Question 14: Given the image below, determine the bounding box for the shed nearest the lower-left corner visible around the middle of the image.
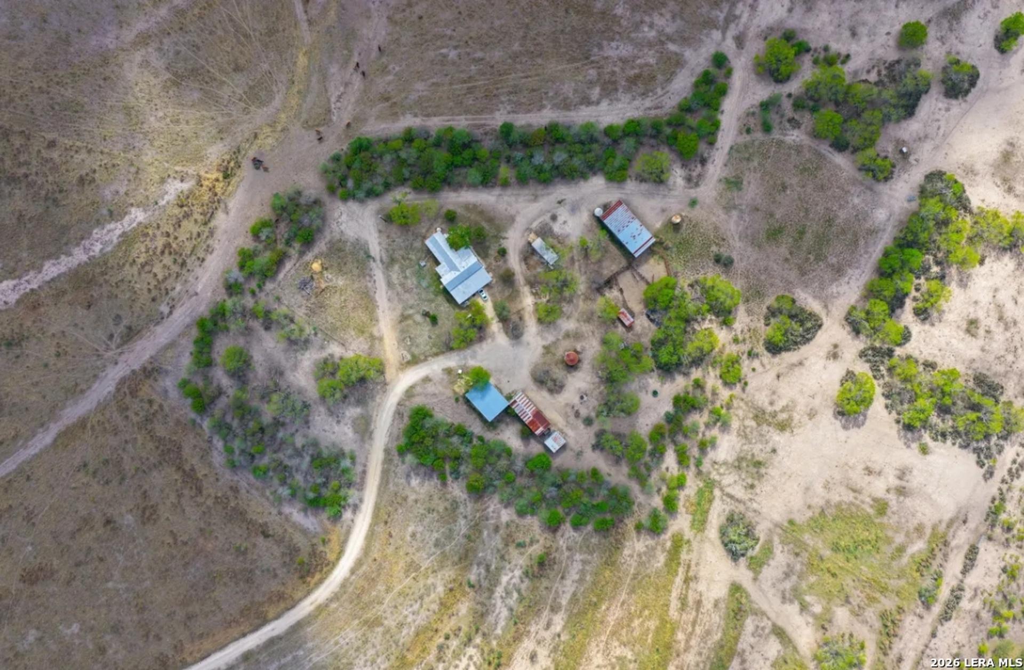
[465,380,509,421]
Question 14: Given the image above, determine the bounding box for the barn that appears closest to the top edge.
[599,200,656,257]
